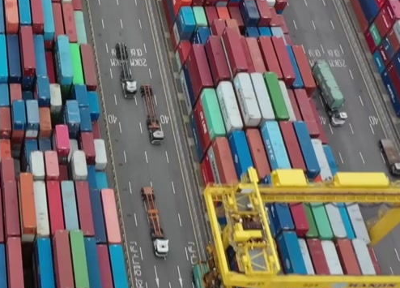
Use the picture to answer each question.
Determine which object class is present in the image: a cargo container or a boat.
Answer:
cargo container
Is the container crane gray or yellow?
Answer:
yellow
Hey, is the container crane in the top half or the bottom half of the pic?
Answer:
bottom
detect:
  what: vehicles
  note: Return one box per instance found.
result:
[381,134,400,174]
[116,44,139,97]
[323,92,348,125]
[142,86,166,144]
[145,189,173,257]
